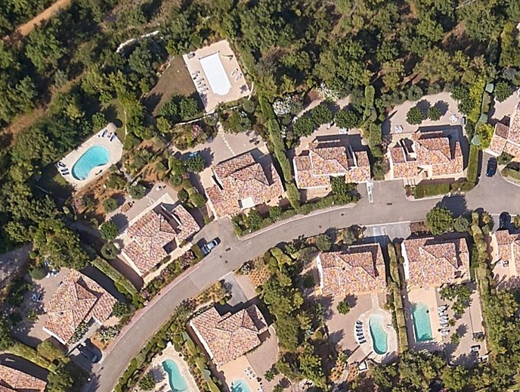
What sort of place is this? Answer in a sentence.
It's a residential area.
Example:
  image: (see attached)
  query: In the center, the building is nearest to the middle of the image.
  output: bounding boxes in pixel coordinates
[209,158,285,217]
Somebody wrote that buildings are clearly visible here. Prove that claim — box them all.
[494,233,520,289]
[190,307,268,367]
[209,158,285,217]
[43,270,117,334]
[391,134,464,180]
[487,104,520,163]
[291,139,370,189]
[318,245,386,294]
[402,238,470,285]
[118,207,203,270]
